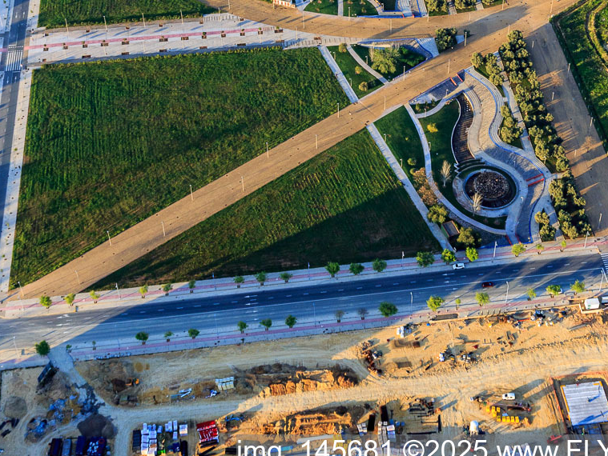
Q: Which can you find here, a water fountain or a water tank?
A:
water fountain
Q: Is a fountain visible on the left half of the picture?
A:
No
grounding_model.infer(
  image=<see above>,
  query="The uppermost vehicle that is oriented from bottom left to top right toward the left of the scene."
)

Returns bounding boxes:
[35,359,58,385]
